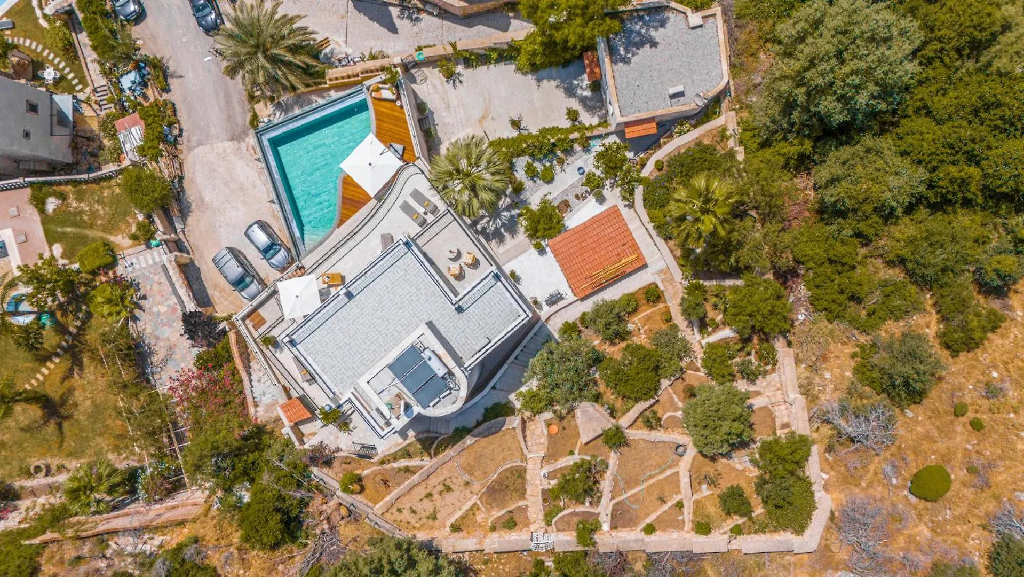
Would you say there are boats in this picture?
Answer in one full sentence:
No, no boat can be seen from above.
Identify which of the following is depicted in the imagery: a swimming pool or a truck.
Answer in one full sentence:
Of the two, only a swimming pool appears.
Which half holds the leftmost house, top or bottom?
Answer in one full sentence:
The leftmost house sits in the top half of the picture.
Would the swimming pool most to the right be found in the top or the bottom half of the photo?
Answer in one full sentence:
The swimming pool most to the right sits in the top half of the picture.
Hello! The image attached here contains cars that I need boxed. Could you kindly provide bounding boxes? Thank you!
[189,0,225,37]
[213,241,264,304]
[108,0,145,24]
[245,217,292,273]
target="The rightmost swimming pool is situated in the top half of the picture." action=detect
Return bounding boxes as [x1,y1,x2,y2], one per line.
[255,84,379,262]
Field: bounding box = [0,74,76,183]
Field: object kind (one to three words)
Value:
house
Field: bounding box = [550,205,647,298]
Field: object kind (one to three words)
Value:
building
